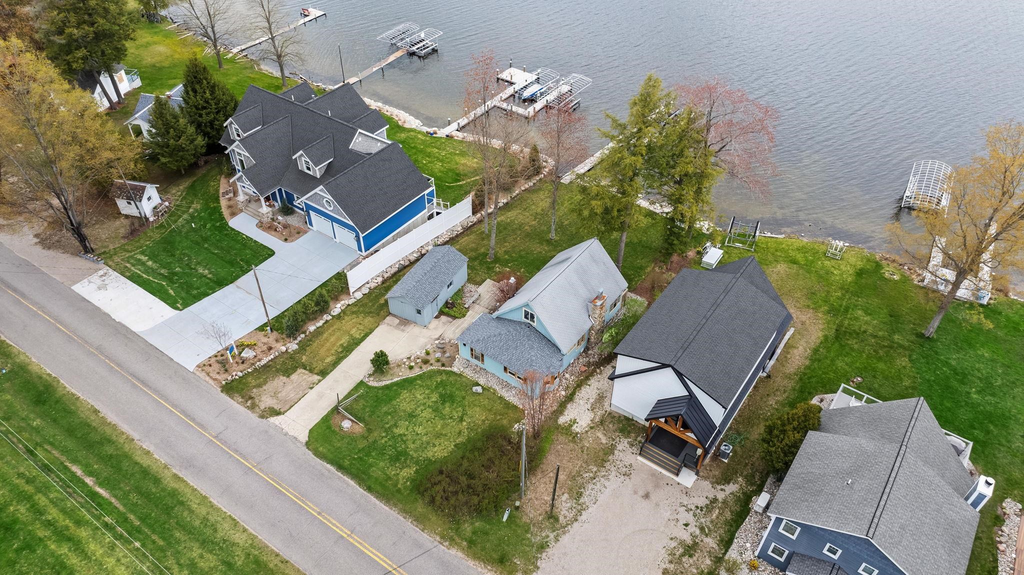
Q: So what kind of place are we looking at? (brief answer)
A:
residential area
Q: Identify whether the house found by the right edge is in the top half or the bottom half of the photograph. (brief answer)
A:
bottom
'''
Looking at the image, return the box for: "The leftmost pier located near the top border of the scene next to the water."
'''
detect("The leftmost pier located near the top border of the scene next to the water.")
[228,5,327,57]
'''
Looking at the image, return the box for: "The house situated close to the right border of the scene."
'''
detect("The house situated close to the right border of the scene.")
[755,384,999,575]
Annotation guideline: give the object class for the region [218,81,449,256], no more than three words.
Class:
house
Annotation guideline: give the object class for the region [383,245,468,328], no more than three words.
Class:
shed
